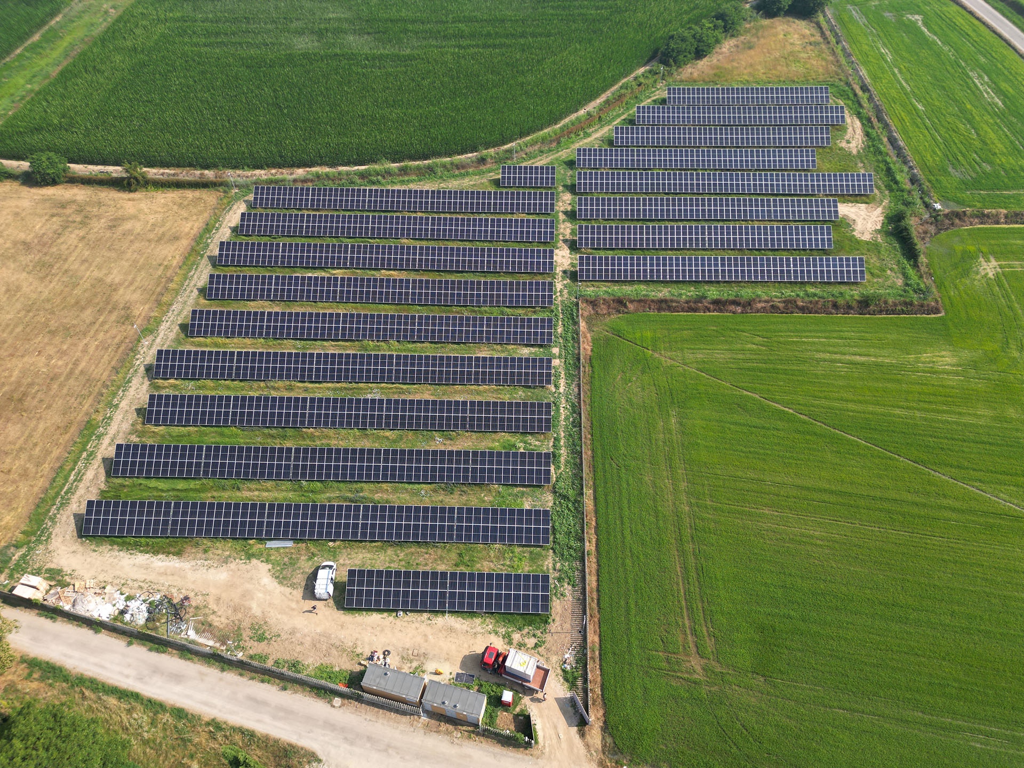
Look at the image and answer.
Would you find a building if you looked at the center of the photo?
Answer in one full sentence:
No, the scene shows no building at the center of the photo.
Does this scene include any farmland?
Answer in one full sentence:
Yes, farmland shows up in the scene.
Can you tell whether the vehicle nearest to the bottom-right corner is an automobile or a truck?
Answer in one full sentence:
I'd identify the vehicle nearest to the bottom-right corner as a truck.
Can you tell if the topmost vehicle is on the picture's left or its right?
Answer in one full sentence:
The topmost vehicle appears in the left half of the scene.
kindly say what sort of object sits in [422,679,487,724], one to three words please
building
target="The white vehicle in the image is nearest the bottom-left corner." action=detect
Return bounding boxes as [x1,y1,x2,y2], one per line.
[314,560,336,598]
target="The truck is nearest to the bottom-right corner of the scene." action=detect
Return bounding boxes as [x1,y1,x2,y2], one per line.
[474,639,550,691]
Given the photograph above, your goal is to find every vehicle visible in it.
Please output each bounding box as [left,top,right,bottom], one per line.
[474,639,550,691]
[314,560,336,598]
